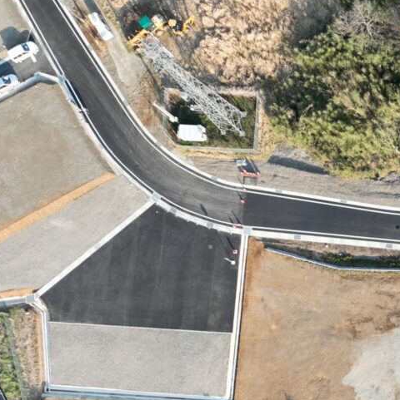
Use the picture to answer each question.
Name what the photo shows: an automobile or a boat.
automobile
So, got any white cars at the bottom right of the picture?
No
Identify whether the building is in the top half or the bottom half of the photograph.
top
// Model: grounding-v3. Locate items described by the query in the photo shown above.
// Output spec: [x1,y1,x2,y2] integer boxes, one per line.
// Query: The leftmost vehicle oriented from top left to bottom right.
[91,14,116,46]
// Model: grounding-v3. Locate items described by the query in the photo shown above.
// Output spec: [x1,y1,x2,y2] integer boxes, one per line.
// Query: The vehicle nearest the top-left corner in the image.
[7,45,45,66]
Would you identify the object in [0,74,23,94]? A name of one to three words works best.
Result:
car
